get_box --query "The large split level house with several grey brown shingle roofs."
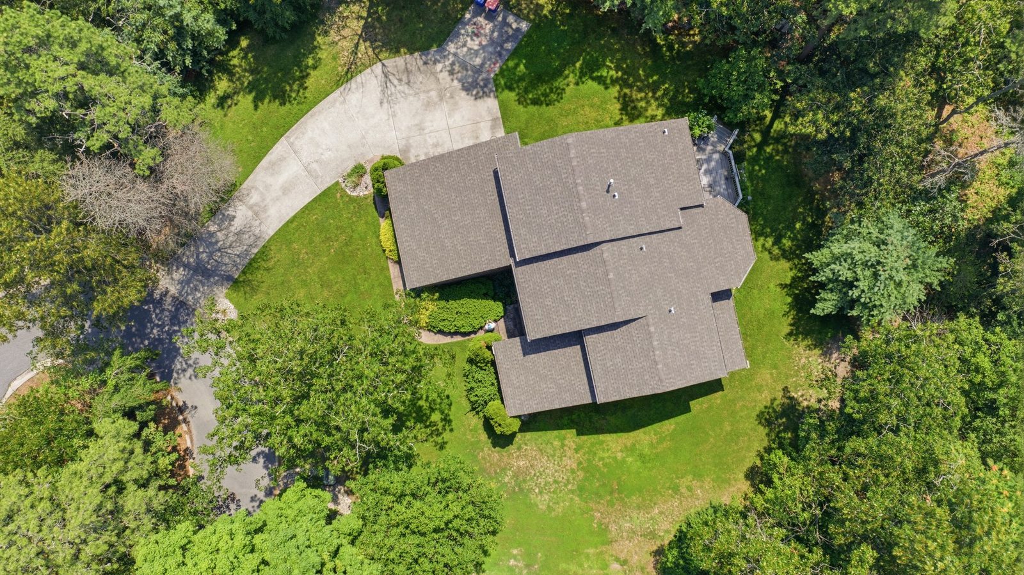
[383,117,758,416]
